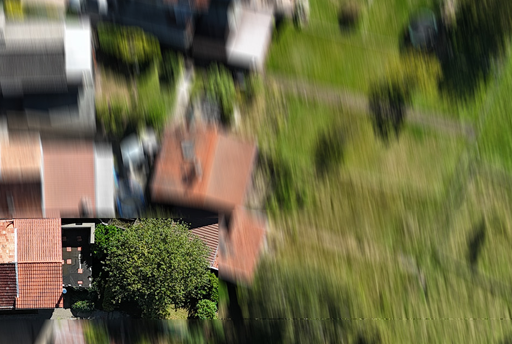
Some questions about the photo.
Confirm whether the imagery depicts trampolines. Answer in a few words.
Yes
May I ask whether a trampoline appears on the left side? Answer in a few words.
No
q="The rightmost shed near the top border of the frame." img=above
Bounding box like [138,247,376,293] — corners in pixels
[218,6,274,76]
